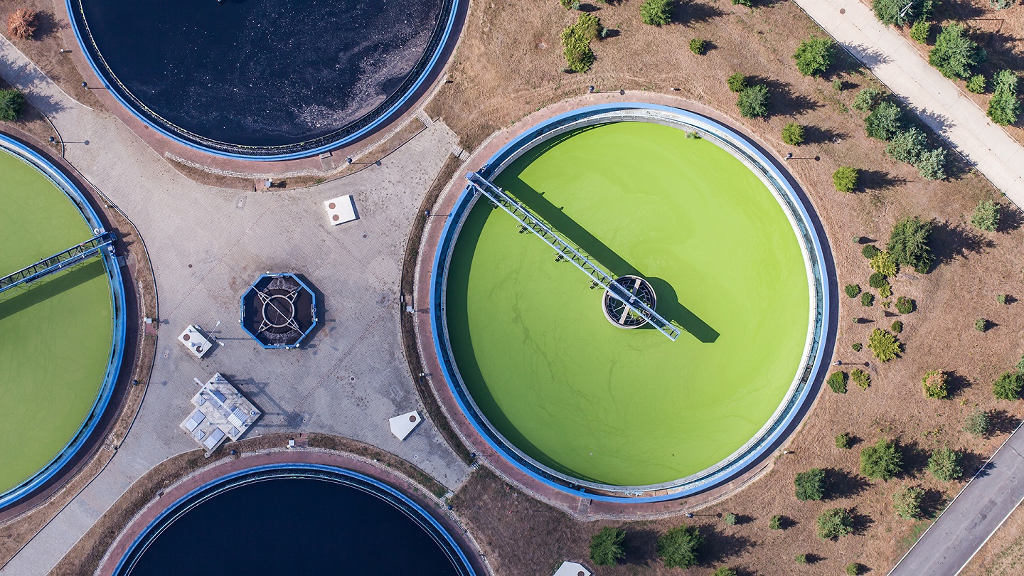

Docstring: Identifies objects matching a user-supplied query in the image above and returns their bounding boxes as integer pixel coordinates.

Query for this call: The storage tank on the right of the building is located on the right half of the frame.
[430,103,830,503]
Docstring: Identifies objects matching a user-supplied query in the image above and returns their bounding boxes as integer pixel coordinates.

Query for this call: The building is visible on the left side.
[180,372,261,455]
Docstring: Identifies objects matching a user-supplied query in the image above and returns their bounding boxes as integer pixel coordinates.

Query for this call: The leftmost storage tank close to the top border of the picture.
[65,0,459,162]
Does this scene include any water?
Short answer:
Yes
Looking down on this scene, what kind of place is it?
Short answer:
industrial area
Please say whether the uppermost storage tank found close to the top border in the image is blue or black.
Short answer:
blue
